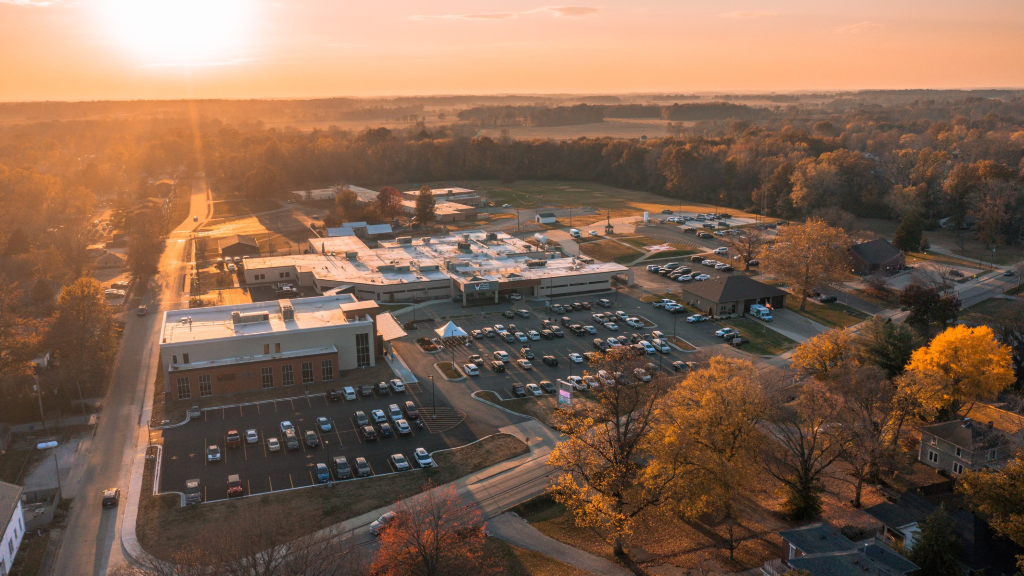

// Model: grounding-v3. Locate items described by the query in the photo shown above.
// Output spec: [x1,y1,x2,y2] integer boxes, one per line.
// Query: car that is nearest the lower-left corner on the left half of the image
[101,486,121,508]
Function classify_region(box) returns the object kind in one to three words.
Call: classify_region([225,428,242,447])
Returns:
vehicle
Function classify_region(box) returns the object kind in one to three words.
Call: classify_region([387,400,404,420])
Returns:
car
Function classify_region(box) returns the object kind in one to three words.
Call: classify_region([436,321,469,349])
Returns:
tent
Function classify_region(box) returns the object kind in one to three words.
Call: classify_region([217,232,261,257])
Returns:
house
